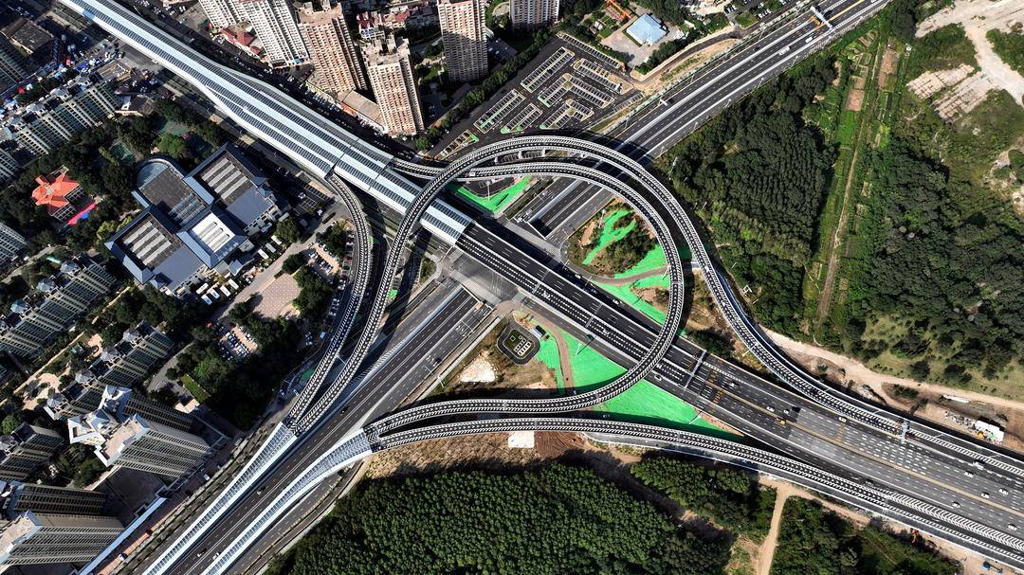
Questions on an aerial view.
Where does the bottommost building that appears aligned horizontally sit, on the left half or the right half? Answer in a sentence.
It is on the left.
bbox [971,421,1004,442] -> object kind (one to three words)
building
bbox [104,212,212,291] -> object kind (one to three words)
building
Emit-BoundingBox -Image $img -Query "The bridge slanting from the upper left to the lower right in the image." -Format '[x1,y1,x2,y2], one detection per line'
[58,0,736,410]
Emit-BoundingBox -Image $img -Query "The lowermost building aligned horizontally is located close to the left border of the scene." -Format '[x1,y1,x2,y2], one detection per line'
[0,510,122,572]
